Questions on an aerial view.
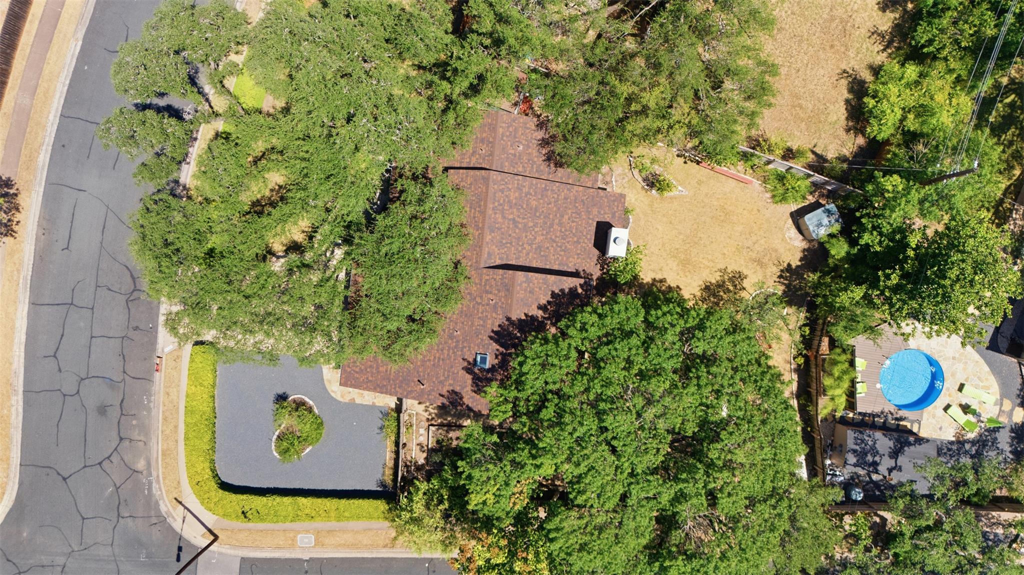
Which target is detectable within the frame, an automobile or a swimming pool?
swimming pool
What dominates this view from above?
trees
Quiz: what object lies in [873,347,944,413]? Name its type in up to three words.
swimming pool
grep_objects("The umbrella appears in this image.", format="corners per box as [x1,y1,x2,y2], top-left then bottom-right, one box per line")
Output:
[974,413,1008,426]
